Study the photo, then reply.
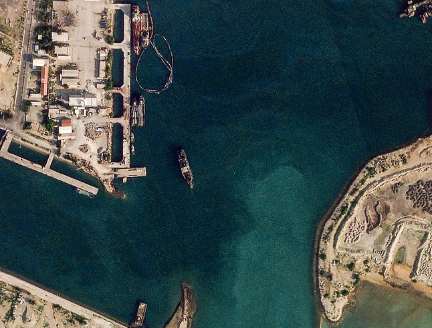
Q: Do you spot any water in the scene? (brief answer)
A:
Yes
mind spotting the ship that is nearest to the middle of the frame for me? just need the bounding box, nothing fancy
[176,148,191,187]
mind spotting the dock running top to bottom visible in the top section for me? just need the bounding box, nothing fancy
[112,3,132,170]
